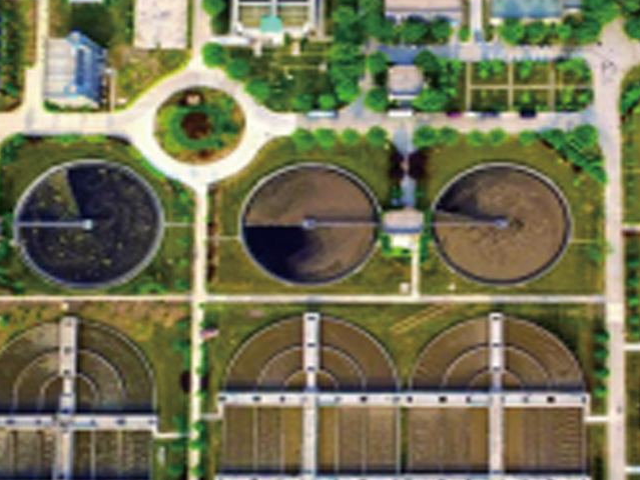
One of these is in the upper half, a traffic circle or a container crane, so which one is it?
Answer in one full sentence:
Looking in the upper half, you will find a traffic circle.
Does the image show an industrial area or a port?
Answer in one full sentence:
This image shows an industrial area.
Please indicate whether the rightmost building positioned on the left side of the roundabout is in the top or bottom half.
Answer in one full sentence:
Seen from above, the rightmost building positioned on the left side of the roundabout lies in the top half of the view.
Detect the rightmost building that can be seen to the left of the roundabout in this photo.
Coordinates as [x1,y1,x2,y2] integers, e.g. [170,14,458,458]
[44,35,107,111]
